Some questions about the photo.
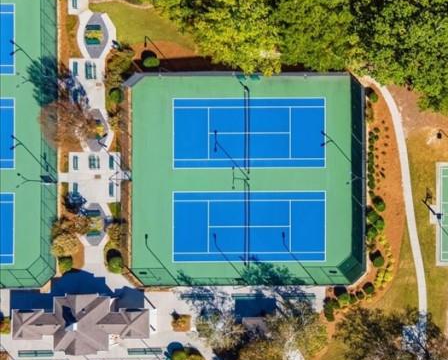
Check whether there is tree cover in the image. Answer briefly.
Yes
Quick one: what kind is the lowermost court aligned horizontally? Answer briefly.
tennis court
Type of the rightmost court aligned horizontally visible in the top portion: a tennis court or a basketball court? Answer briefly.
tennis court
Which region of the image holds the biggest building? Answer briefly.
bottom left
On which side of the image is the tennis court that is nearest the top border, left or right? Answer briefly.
left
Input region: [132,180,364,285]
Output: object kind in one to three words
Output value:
tennis court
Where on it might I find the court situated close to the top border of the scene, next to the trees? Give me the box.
[0,0,57,86]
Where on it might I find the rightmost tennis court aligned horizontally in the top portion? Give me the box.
[132,74,362,180]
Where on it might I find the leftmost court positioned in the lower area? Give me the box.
[0,181,57,285]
